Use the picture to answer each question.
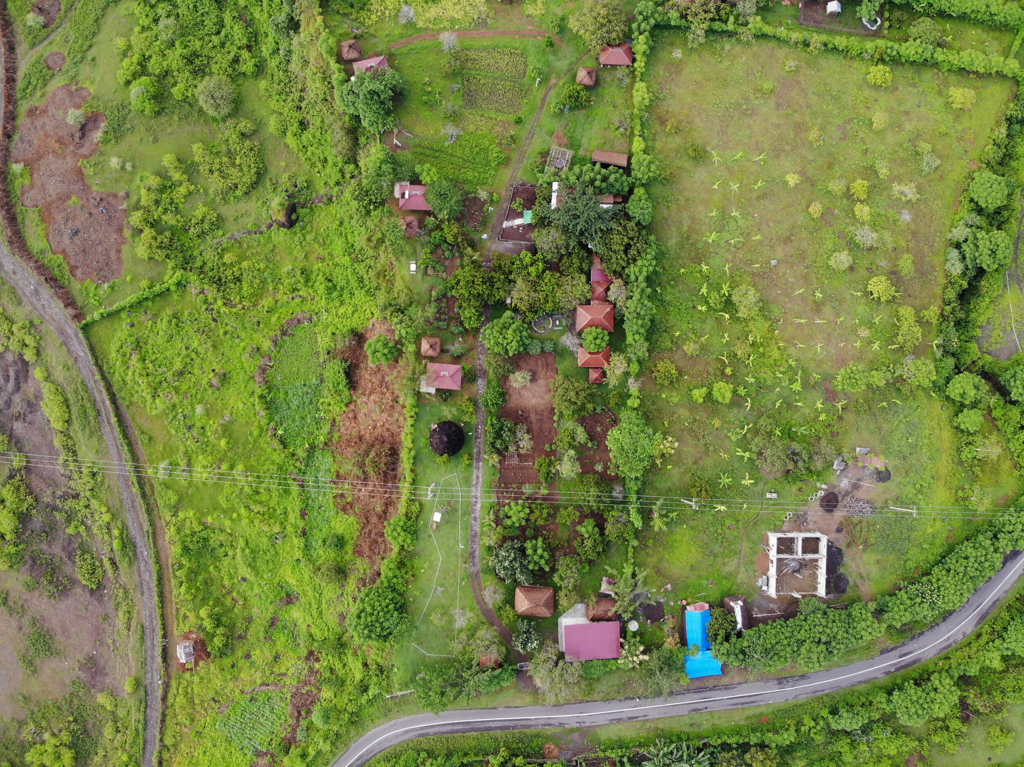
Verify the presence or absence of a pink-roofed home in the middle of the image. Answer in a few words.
Yes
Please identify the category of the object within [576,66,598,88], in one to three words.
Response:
shed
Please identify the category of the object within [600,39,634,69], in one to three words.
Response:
house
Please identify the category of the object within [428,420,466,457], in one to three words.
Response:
building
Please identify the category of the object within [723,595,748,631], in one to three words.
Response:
barn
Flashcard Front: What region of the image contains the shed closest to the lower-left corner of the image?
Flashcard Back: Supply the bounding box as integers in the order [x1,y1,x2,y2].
[176,643,195,664]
